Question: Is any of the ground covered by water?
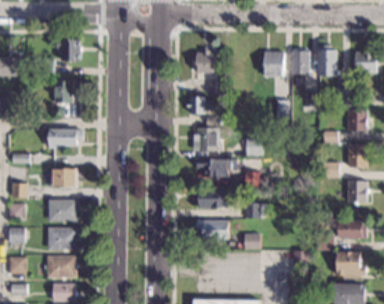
No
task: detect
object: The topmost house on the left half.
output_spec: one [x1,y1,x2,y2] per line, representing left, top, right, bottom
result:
[64,39,85,62]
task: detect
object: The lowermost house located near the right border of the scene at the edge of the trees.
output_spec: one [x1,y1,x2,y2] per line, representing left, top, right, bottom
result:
[334,284,368,304]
